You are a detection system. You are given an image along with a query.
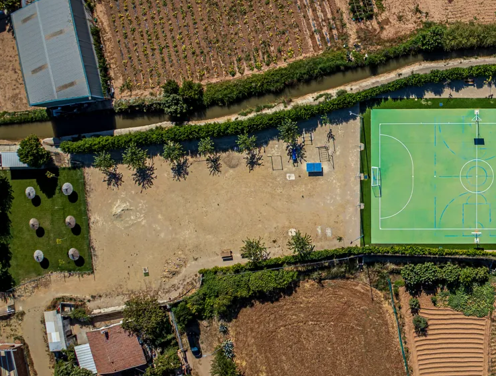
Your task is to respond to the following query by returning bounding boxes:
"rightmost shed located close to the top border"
[10,0,104,107]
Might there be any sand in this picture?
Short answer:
Yes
